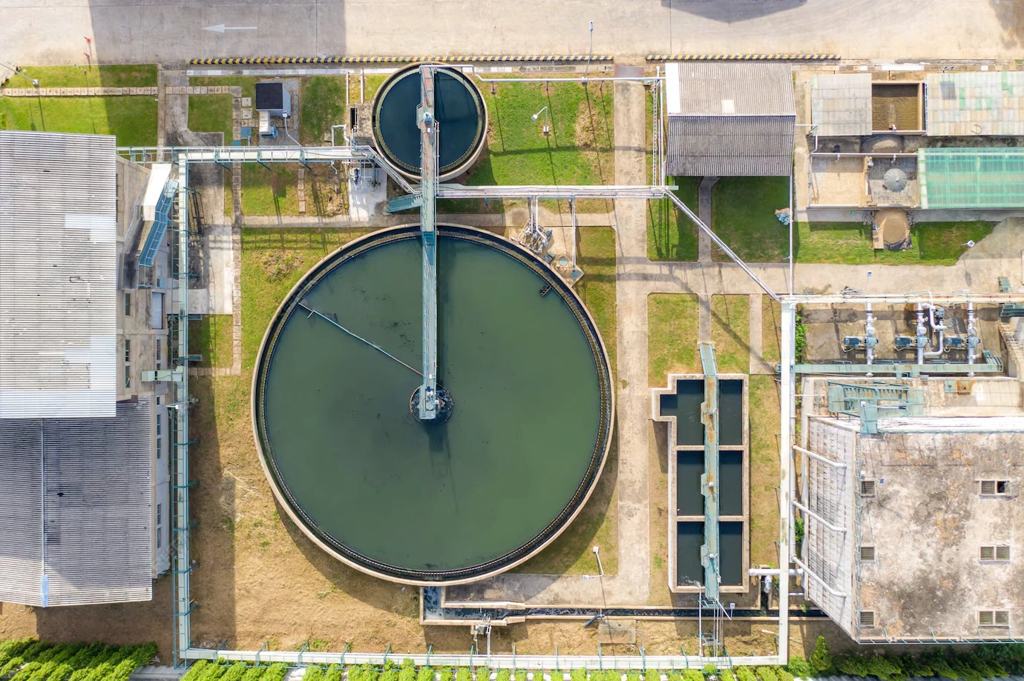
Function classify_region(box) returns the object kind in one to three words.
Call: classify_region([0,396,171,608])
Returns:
building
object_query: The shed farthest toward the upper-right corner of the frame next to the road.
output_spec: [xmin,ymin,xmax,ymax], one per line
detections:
[657,62,798,182]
